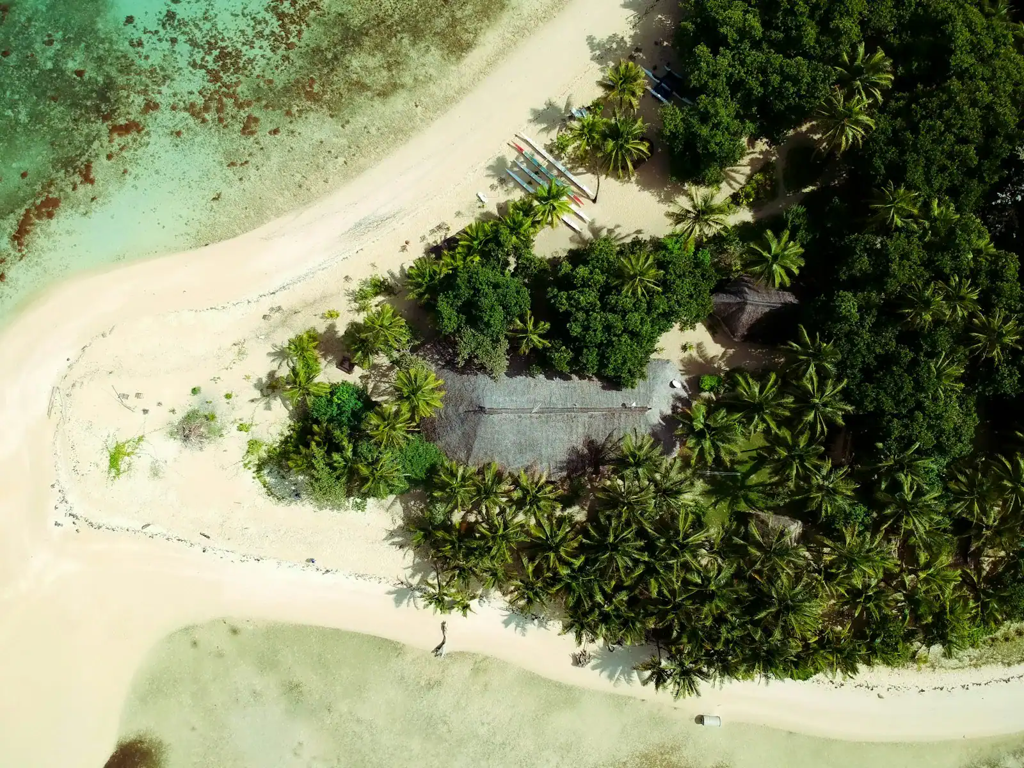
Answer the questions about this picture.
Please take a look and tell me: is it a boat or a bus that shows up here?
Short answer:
boat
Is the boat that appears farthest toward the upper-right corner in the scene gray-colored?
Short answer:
No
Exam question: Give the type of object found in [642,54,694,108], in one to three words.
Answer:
boat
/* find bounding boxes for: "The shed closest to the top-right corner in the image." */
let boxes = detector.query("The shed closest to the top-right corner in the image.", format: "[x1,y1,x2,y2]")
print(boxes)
[711,273,804,345]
